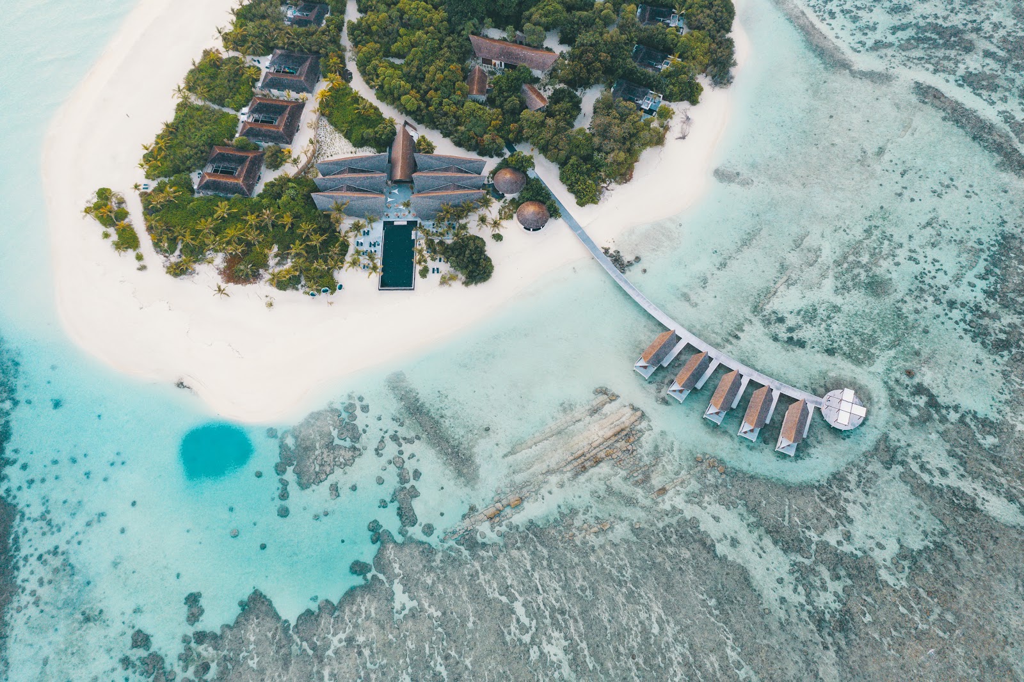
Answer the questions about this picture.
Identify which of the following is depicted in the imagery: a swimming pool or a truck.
swimming pool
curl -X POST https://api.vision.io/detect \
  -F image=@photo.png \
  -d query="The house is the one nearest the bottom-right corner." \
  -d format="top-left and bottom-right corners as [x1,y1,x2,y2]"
[773,399,808,462]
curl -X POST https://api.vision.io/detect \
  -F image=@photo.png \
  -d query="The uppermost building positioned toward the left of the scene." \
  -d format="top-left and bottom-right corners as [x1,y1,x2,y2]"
[289,0,329,30]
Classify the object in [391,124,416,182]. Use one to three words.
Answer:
building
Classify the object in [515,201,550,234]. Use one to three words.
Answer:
shed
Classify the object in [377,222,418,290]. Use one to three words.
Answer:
swimming pool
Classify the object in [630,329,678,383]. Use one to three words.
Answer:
house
